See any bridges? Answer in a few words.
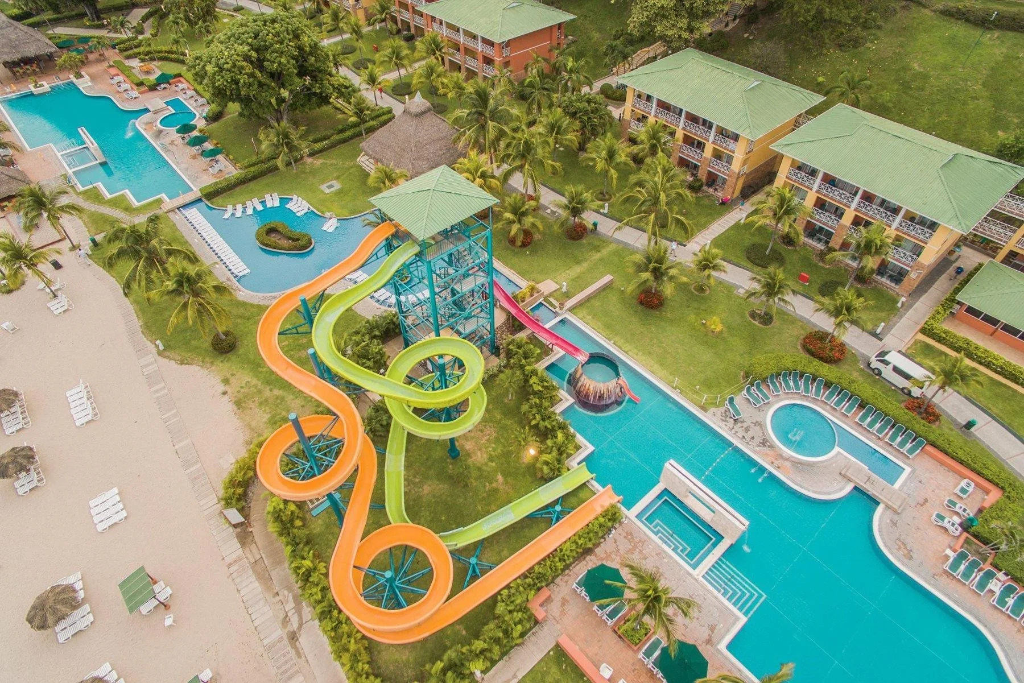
Yes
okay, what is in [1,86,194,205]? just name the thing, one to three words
swimming pool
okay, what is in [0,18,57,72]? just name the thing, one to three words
building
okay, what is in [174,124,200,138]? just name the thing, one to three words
umbrella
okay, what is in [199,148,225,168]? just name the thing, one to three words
umbrella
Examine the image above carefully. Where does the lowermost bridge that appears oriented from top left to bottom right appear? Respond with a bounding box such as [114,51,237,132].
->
[842,465,908,511]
